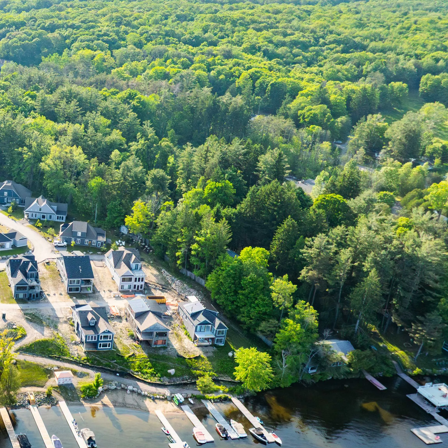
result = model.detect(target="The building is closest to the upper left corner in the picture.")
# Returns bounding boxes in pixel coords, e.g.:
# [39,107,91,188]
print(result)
[0,183,31,206]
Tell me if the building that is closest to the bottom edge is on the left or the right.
right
